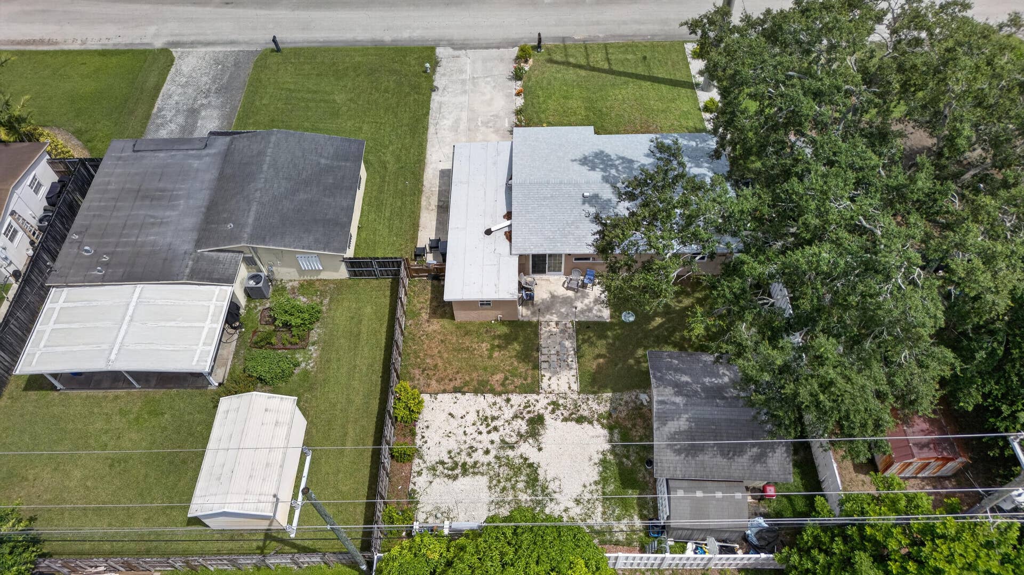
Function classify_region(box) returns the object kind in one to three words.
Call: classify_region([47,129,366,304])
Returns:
house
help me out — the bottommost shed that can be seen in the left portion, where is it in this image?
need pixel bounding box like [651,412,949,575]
[186,391,306,528]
